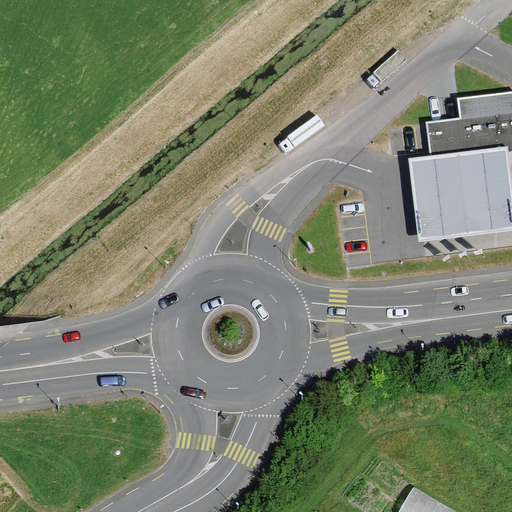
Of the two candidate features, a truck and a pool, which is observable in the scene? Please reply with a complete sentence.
The one in the frame is a truck.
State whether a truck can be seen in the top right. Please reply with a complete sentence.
Yes, the scene does show a truck in the top right.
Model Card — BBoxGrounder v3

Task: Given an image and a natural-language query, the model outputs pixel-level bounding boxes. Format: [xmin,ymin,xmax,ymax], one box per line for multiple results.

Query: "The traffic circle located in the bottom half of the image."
[112,200,362,462]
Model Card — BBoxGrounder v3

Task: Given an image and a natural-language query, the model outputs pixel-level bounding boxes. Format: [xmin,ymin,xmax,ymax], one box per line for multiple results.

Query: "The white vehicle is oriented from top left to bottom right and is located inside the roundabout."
[252,300,269,322]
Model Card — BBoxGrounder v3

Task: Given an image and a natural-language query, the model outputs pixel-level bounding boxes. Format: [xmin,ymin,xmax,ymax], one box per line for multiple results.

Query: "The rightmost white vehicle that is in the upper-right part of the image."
[429,96,442,121]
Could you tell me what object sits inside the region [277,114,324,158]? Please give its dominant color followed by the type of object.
white truck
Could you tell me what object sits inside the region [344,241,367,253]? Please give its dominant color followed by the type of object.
red vehicle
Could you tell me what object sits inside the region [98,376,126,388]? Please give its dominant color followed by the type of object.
blue vehicle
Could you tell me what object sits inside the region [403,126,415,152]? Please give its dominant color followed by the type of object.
black vehicle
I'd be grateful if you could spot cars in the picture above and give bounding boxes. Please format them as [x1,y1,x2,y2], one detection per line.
[445,98,456,120]
[328,306,348,317]
[202,297,224,312]
[450,286,469,297]
[344,241,367,253]
[181,386,206,400]
[340,202,364,218]
[252,300,269,322]
[62,332,81,342]
[502,314,512,325]
[386,308,408,319]
[403,126,415,152]
[158,293,180,309]
[429,96,442,121]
